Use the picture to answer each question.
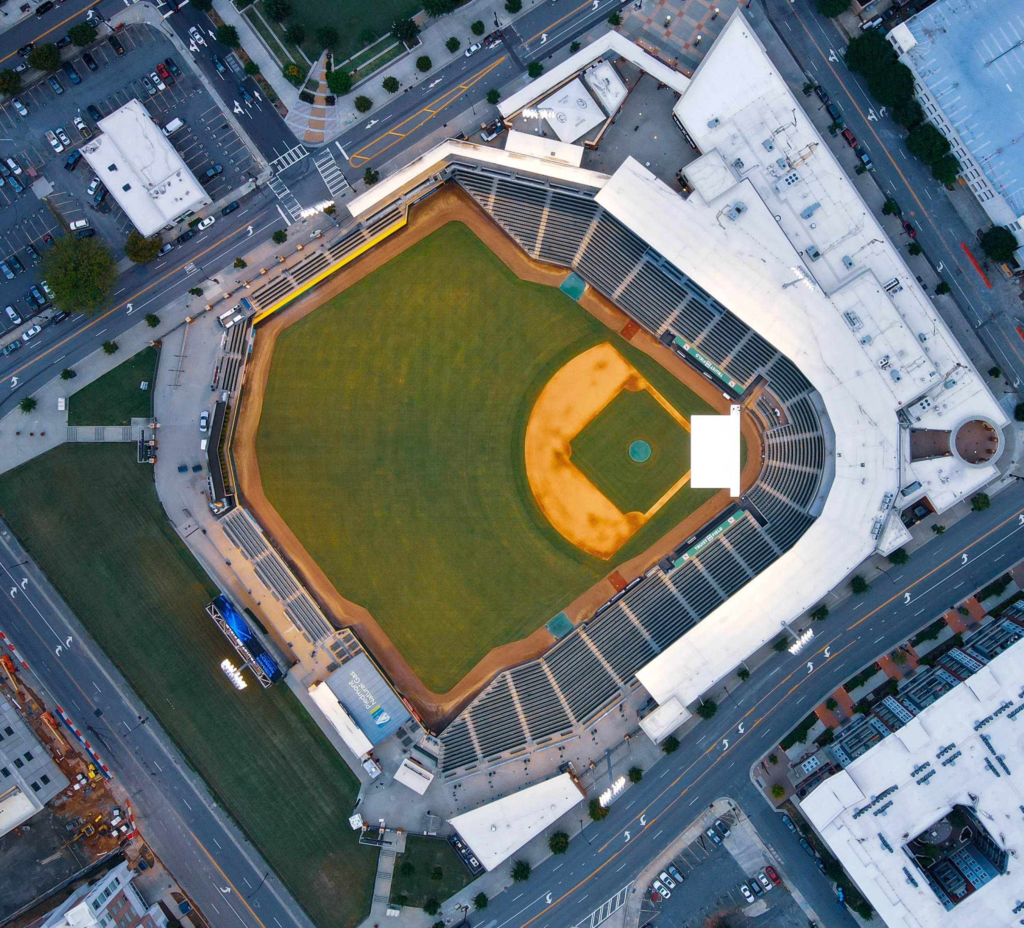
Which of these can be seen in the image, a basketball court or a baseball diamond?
baseball diamond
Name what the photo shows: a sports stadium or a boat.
sports stadium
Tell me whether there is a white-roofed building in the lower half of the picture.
Yes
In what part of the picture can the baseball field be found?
center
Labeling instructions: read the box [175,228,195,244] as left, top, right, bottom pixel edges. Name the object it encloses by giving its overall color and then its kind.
black car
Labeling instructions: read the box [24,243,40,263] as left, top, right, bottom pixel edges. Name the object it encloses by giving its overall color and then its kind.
black car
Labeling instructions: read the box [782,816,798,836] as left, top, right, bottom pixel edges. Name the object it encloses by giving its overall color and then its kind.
blue car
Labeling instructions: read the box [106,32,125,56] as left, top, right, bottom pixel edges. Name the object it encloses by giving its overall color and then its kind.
black vehicle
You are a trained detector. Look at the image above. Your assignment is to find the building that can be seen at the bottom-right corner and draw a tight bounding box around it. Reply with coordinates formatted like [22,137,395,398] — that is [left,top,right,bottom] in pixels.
[781,600,1024,928]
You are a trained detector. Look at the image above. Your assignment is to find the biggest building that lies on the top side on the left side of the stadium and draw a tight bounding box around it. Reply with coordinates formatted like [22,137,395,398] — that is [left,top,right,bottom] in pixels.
[79,97,211,237]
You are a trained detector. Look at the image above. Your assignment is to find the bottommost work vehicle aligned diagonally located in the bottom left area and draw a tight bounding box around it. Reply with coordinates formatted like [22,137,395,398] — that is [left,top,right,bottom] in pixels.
[60,824,96,851]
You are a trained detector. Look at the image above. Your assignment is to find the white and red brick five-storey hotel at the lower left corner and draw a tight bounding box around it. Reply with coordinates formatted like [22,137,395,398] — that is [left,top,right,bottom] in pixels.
[29,854,150,928]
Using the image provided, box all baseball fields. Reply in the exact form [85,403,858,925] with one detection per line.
[233,173,764,739]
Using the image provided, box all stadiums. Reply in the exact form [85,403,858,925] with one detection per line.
[206,6,1012,872]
